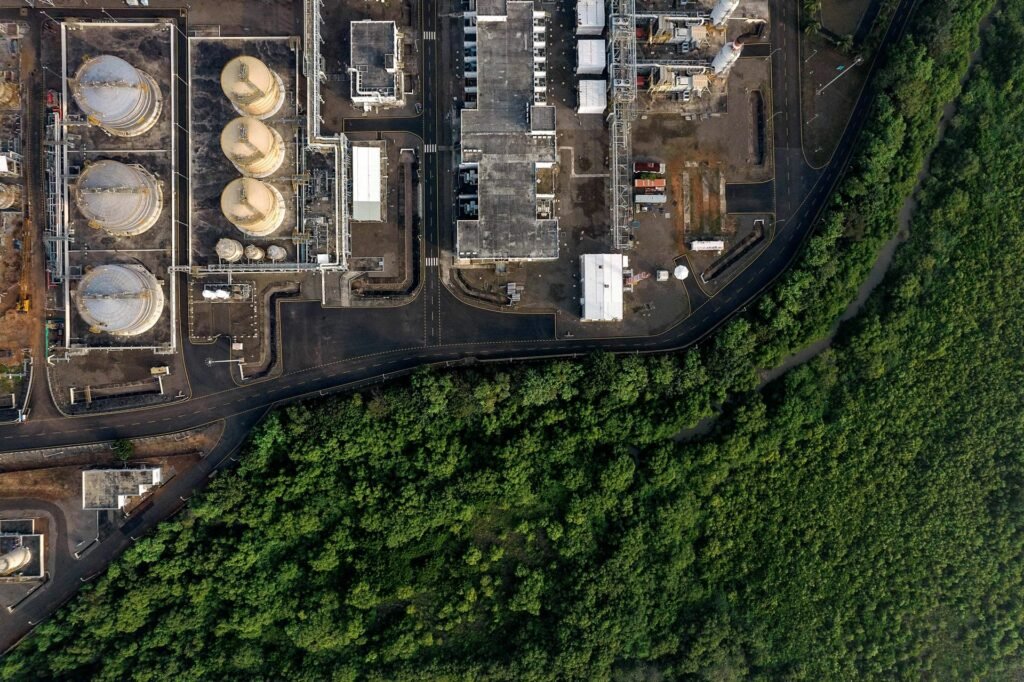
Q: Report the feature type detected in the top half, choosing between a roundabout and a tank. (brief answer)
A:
tank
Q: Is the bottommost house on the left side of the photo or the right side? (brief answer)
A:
left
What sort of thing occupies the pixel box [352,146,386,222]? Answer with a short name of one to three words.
shed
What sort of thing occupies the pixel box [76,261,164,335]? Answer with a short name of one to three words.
storage tank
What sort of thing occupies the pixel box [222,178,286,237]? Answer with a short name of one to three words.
storage tank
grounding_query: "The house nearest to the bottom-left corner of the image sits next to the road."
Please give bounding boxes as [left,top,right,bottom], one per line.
[83,454,160,509]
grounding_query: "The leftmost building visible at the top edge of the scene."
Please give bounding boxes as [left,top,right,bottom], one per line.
[343,21,404,117]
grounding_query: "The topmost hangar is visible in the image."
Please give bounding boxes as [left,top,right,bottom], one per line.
[574,0,605,36]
